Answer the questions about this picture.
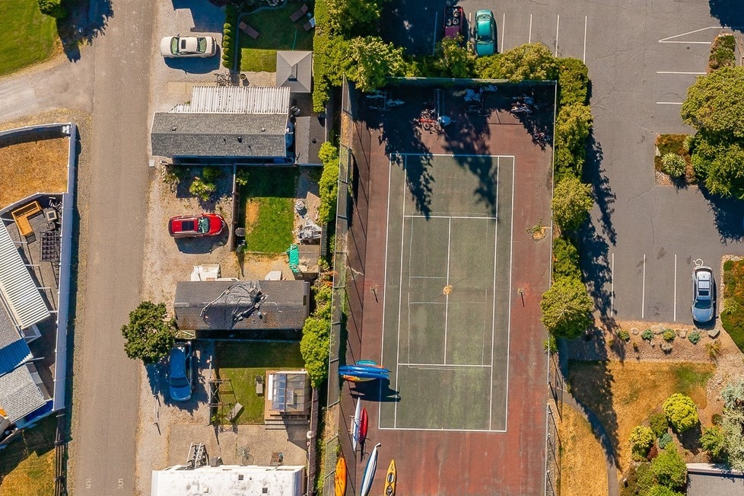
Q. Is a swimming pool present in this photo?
No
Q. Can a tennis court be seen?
Yes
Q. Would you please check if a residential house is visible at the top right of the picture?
No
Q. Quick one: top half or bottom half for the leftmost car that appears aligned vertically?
bottom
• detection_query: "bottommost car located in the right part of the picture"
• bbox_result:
[691,264,718,324]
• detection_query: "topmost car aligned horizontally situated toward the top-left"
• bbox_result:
[164,34,221,59]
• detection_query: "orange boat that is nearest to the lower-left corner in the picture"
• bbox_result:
[335,456,348,496]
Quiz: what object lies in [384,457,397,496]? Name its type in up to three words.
boat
